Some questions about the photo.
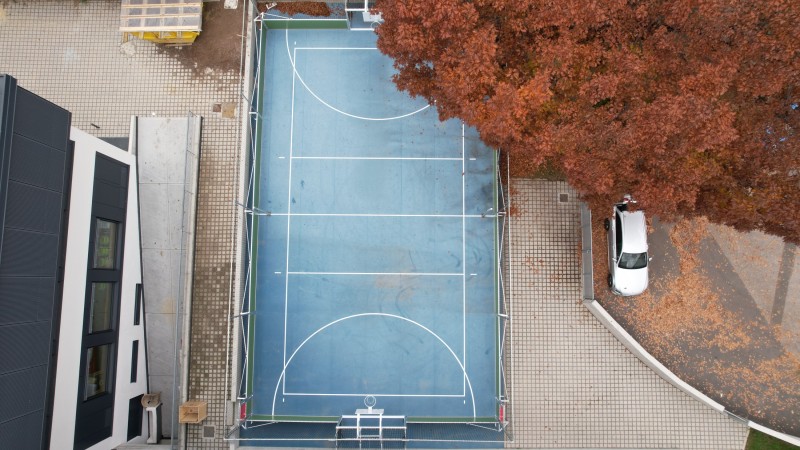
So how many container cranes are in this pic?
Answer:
0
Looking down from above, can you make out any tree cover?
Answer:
Yes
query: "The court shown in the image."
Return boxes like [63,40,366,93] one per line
[245,3,505,447]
